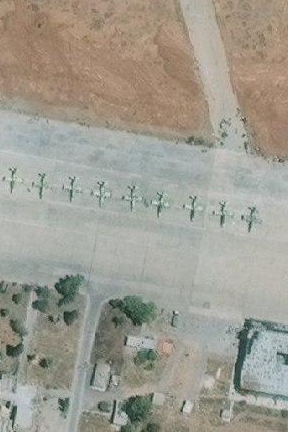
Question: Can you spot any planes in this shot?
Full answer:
Yes, the photo shows a plane.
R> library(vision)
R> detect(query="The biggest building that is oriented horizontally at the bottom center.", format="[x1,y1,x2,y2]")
[127,336,155,349]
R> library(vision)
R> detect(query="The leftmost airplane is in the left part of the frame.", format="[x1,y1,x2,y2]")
[3,166,22,191]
